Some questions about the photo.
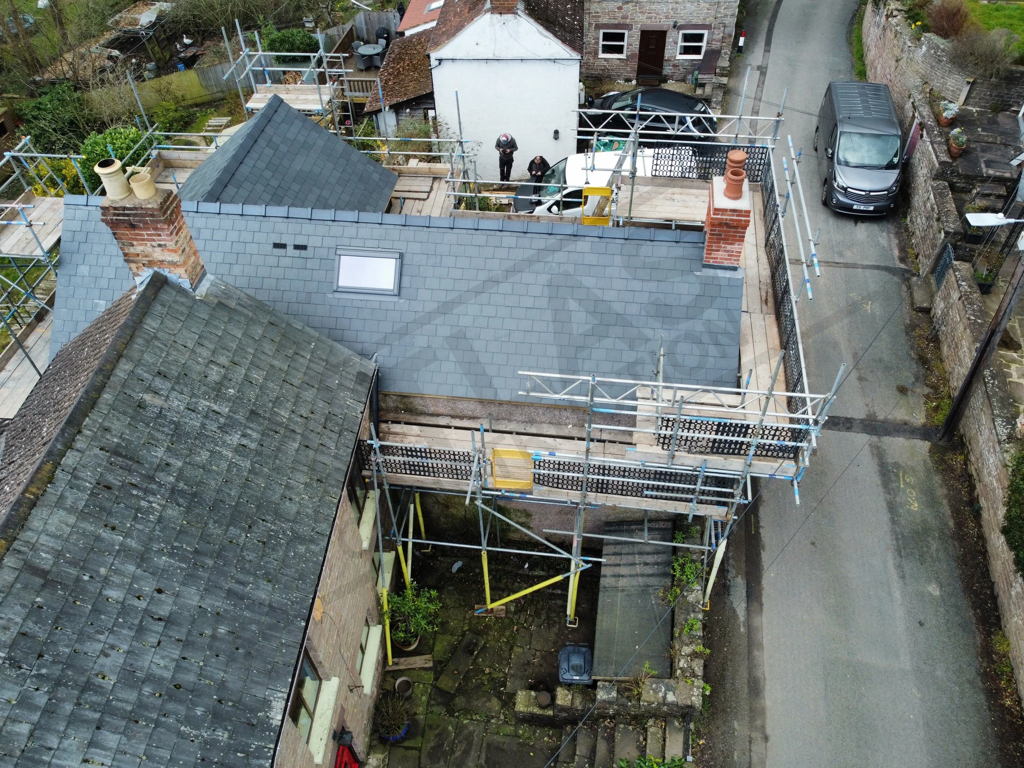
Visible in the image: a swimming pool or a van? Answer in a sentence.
The image shows a van.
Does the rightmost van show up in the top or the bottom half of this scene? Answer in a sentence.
You can find the rightmost van in the top half.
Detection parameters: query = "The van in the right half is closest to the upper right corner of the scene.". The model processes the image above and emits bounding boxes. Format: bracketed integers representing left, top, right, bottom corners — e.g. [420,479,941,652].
[809,82,912,222]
